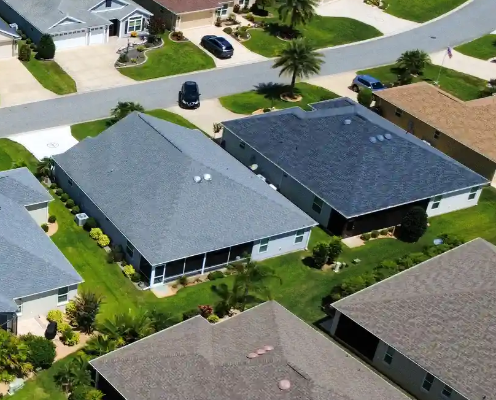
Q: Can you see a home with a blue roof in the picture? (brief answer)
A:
Yes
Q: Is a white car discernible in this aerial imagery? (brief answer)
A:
No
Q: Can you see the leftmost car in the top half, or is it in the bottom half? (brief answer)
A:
top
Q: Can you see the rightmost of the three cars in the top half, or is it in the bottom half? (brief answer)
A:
top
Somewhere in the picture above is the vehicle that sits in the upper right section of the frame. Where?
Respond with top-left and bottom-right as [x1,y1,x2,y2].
[353,68,394,91]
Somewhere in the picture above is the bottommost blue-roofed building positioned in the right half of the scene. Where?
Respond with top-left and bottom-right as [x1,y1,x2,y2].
[220,95,488,239]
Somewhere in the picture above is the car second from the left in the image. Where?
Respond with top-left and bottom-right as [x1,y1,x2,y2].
[203,36,231,54]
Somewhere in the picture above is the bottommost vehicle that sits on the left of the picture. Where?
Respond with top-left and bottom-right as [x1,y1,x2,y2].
[181,80,201,106]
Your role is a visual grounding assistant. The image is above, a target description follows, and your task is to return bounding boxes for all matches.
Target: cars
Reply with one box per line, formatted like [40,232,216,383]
[203,36,231,54]
[181,80,201,106]
[353,68,394,91]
